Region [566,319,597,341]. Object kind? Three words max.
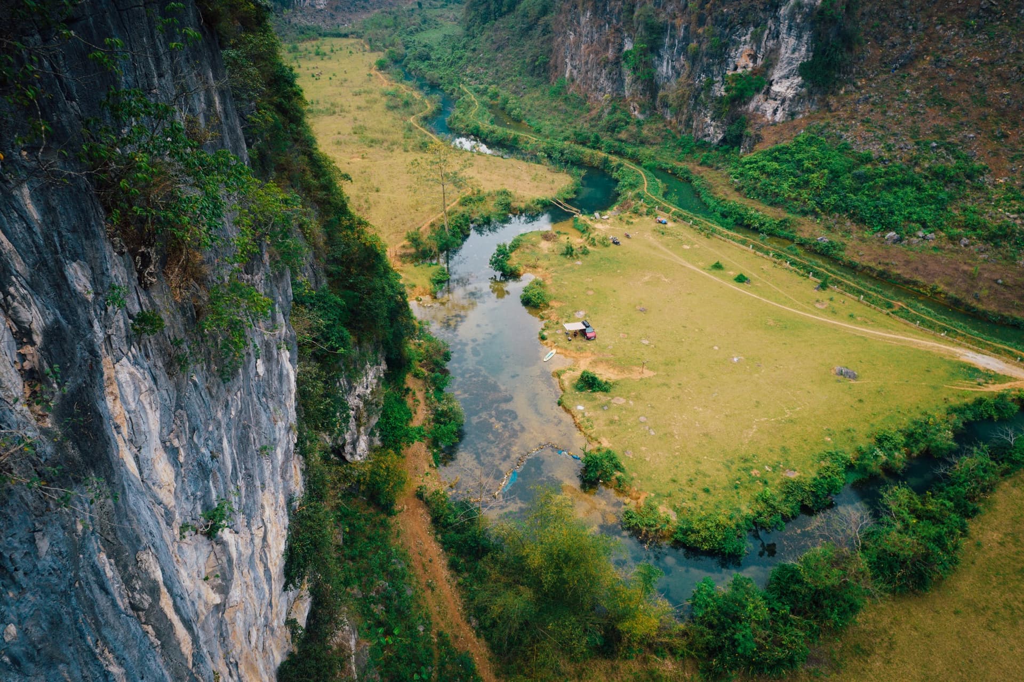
car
